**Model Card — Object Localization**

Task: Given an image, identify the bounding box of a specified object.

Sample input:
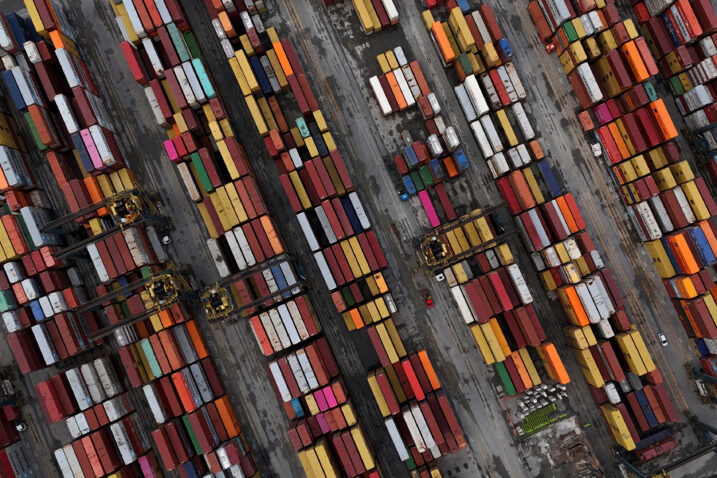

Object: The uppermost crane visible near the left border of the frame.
[36,185,177,265]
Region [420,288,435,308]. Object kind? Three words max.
vehicle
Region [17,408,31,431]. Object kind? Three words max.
vehicle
